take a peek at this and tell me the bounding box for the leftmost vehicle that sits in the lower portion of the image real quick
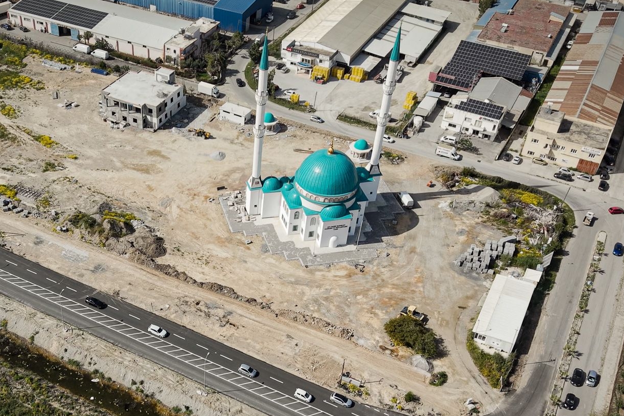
[86,297,107,310]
